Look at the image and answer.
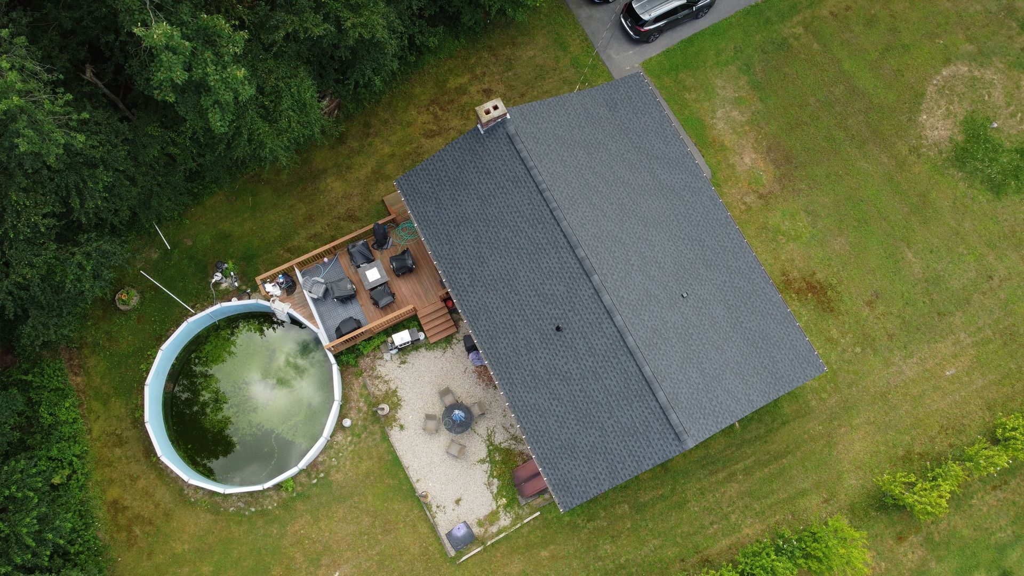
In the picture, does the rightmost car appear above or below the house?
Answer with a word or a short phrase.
above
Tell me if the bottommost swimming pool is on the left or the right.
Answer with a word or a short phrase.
left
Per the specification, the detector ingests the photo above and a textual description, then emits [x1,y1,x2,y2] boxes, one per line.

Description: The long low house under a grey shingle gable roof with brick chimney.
[394,71,827,514]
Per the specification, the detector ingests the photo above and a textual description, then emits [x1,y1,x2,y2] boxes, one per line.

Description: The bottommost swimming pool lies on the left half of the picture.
[145,298,347,495]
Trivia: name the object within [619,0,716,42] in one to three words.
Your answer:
car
